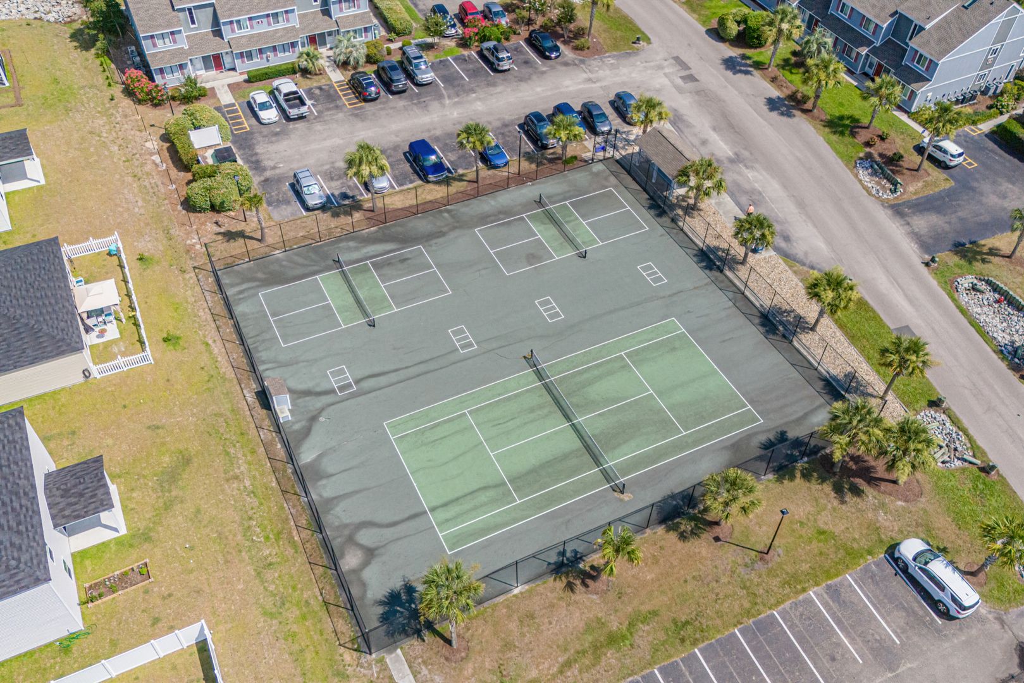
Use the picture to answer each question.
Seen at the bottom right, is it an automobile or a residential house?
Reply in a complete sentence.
The one visible at the bottom right is an automobile.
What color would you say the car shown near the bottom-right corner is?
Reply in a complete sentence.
In this view, the car shown near the bottom-right corner is white.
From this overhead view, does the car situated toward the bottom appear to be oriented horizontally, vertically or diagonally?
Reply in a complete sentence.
In this picture, the car situated toward the bottom is oriented diagonally.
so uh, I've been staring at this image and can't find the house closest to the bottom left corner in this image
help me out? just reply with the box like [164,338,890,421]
[0,409,133,660]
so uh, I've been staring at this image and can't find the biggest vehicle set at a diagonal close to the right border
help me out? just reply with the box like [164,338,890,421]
[891,539,982,617]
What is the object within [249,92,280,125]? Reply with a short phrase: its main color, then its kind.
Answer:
white car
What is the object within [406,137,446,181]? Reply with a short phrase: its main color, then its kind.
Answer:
blue car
